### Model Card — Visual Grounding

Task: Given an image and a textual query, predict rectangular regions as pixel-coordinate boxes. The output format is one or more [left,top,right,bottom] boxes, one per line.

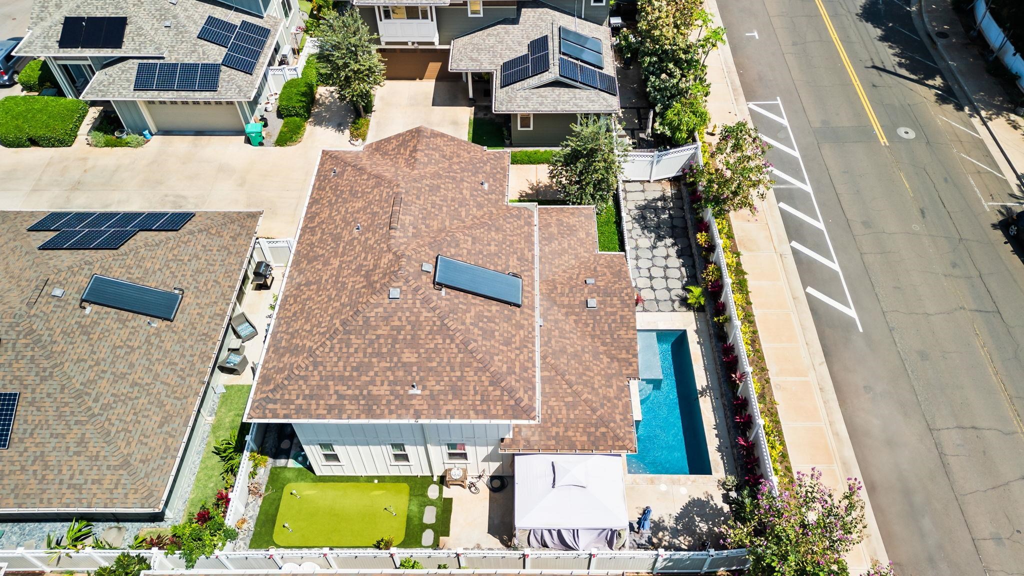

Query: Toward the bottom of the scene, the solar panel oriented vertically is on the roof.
[0,392,22,446]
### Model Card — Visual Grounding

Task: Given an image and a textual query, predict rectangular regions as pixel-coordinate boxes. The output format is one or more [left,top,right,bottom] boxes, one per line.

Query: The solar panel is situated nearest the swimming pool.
[436,251,524,305]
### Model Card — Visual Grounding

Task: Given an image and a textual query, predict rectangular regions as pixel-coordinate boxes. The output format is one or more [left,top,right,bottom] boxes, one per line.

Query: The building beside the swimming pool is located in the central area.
[240,124,645,482]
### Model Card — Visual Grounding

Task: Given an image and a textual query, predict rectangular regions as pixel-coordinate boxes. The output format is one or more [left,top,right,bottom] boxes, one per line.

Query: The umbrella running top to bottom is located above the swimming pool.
[641,108,654,147]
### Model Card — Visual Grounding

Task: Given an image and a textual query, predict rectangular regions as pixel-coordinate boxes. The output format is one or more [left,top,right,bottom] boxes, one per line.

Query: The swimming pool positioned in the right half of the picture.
[624,312,734,507]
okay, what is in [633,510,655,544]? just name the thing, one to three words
umbrella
